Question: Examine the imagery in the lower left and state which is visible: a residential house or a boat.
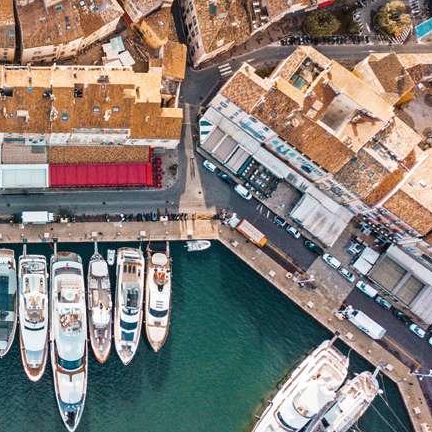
boat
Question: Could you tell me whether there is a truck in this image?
Yes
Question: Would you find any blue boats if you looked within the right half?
No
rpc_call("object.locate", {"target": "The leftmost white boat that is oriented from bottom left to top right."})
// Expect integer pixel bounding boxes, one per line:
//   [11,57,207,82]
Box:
[251,331,355,432]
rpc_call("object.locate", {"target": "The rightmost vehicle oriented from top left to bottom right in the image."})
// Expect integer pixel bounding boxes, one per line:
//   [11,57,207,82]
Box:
[408,321,429,340]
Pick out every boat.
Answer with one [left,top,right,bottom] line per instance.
[251,331,355,432]
[86,239,114,362]
[109,248,116,267]
[313,365,399,432]
[19,238,50,386]
[48,239,90,432]
[184,239,212,251]
[0,246,18,361]
[112,238,145,367]
[144,240,174,353]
